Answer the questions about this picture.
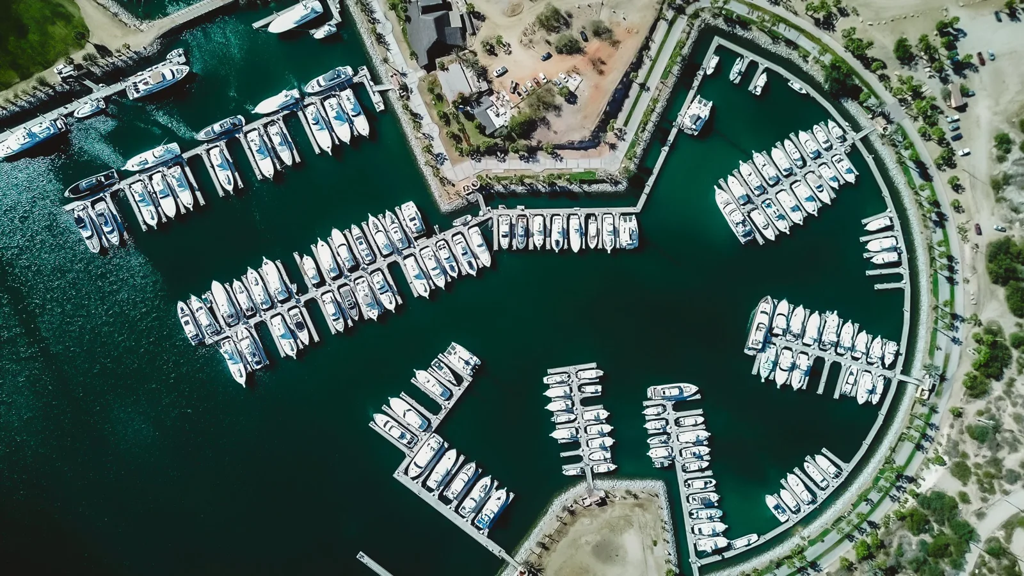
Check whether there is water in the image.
Yes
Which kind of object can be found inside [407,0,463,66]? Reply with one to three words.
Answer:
house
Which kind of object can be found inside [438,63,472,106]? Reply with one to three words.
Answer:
house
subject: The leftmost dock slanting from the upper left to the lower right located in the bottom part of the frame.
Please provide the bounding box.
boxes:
[356,550,395,576]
